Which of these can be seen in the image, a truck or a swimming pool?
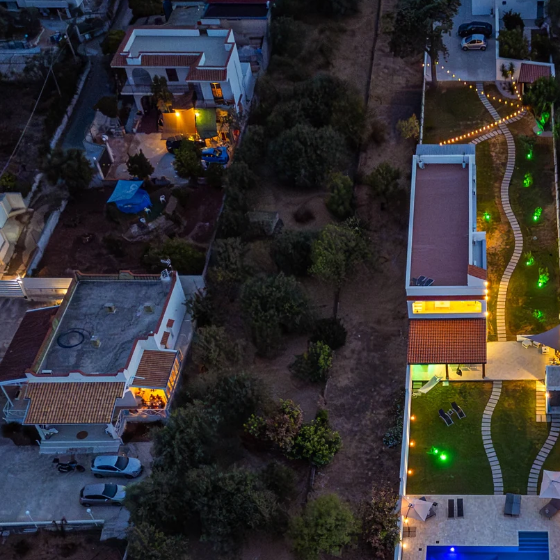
swimming pool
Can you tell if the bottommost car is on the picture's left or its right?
left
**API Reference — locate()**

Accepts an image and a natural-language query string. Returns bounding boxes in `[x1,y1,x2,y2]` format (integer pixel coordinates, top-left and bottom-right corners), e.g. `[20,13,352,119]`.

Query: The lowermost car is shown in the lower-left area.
[77,483,132,508]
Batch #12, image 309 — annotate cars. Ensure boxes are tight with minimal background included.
[456,22,496,39]
[88,455,141,480]
[77,483,132,508]
[459,35,488,52]
[199,146,234,165]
